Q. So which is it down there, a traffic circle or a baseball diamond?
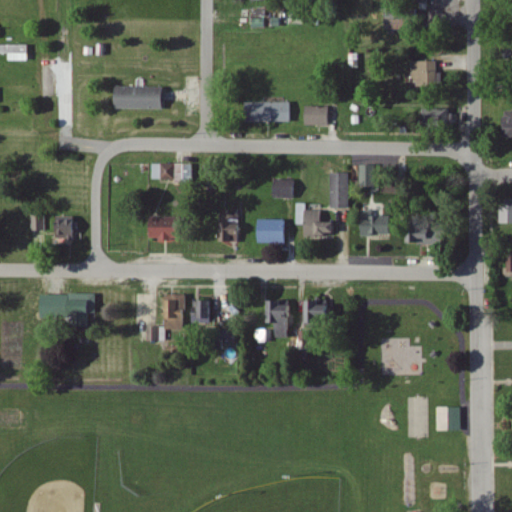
baseball diamond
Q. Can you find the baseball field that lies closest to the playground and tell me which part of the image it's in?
bottom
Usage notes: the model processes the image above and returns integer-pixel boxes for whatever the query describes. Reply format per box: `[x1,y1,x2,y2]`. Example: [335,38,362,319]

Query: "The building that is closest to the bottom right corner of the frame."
[436,406,460,432]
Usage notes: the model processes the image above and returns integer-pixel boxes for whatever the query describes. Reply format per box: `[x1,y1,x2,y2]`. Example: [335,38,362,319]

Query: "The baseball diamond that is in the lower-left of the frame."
[0,435,96,512]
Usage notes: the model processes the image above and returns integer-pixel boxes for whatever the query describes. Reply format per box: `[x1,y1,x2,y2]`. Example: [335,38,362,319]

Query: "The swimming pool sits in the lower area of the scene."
[225,348,238,366]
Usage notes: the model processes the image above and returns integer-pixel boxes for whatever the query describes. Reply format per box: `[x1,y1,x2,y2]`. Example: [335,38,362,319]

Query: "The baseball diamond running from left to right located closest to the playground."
[198,479,339,512]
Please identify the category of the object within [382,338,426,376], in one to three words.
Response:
playground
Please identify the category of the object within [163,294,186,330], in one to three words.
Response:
house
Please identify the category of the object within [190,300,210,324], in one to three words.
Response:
house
